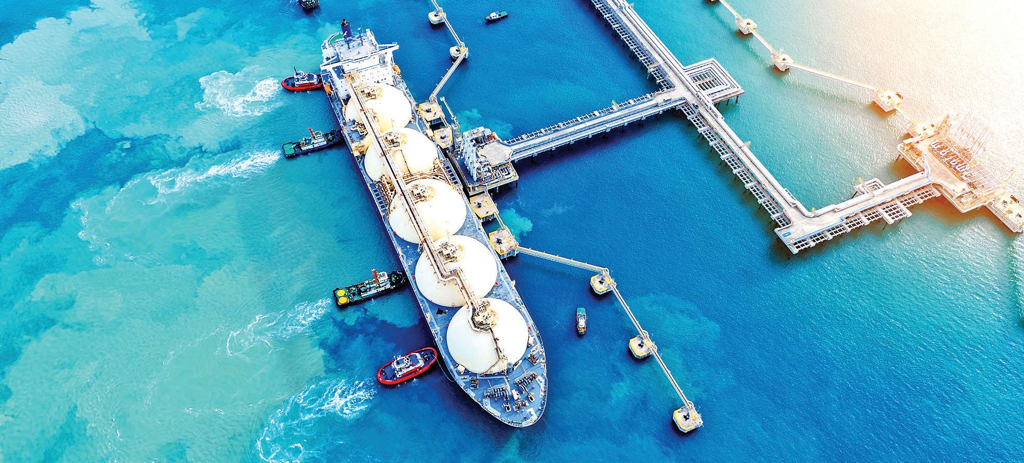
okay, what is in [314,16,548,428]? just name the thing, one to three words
ship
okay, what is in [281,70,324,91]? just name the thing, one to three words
boat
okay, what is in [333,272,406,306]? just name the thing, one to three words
boat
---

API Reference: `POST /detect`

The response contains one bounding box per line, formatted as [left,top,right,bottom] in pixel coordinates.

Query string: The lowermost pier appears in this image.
[771,167,940,265]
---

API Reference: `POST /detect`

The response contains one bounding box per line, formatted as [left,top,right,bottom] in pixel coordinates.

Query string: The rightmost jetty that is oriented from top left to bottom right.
[586,0,824,255]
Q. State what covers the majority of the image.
water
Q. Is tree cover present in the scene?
No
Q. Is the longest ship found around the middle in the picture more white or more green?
white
